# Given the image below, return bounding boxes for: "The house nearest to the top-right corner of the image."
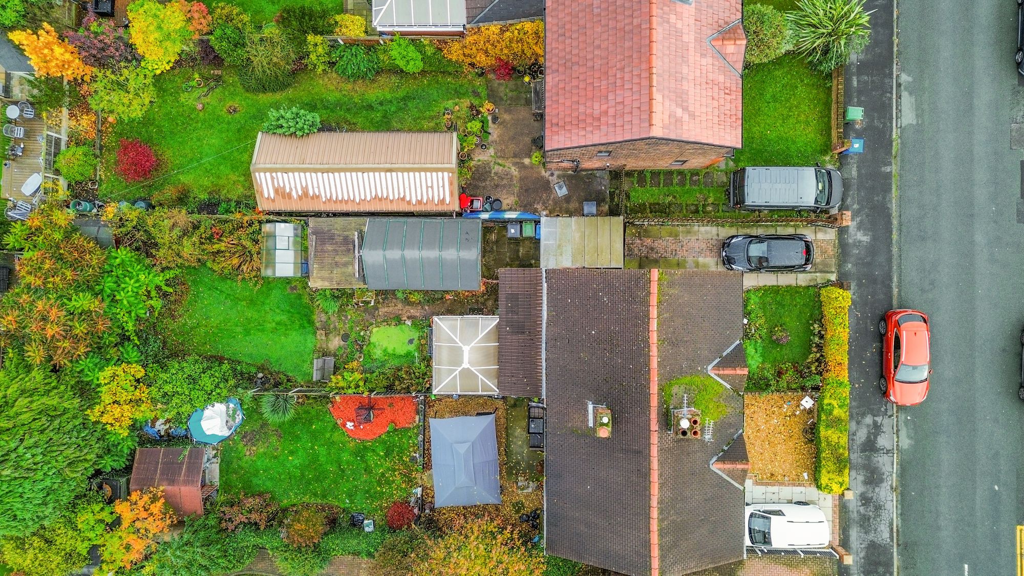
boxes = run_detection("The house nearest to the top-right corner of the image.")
[542,0,750,175]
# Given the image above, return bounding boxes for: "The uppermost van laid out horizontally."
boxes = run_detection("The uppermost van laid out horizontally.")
[727,161,844,217]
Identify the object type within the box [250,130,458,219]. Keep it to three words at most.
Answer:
building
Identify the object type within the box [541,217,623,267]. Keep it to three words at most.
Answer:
building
